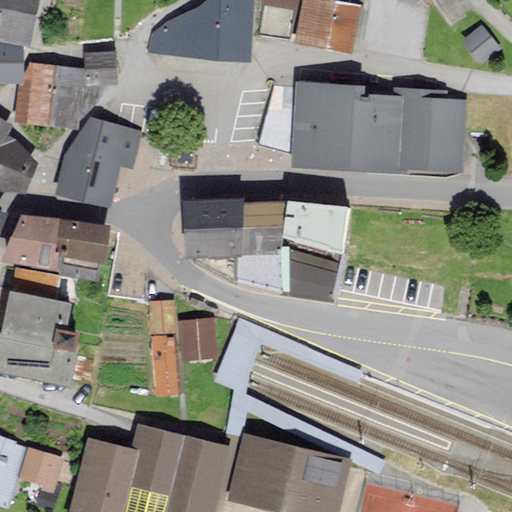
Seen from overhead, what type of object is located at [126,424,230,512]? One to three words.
building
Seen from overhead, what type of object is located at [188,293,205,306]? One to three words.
vehicle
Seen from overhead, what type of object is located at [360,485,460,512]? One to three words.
sports court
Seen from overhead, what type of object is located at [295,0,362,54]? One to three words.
barn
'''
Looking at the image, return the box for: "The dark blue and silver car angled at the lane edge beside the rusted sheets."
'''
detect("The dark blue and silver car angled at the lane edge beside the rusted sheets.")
[72,384,92,406]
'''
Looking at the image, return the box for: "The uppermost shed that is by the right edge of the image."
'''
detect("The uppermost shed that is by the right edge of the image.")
[463,24,502,64]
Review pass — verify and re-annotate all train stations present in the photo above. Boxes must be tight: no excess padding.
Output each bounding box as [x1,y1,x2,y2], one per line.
[214,318,512,474]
